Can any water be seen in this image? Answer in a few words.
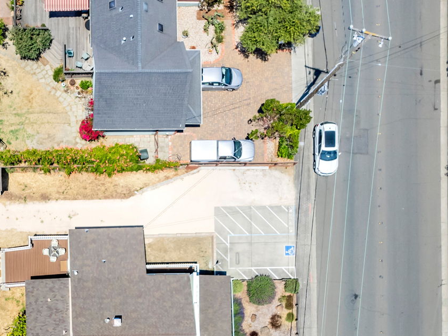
No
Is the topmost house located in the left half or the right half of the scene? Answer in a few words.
left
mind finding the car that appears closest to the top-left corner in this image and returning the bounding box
[202,63,244,91]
